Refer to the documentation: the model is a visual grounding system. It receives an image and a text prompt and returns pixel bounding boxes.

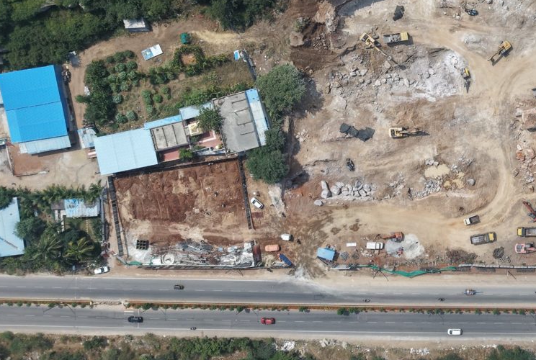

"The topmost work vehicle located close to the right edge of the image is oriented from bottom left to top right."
[488,40,510,64]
